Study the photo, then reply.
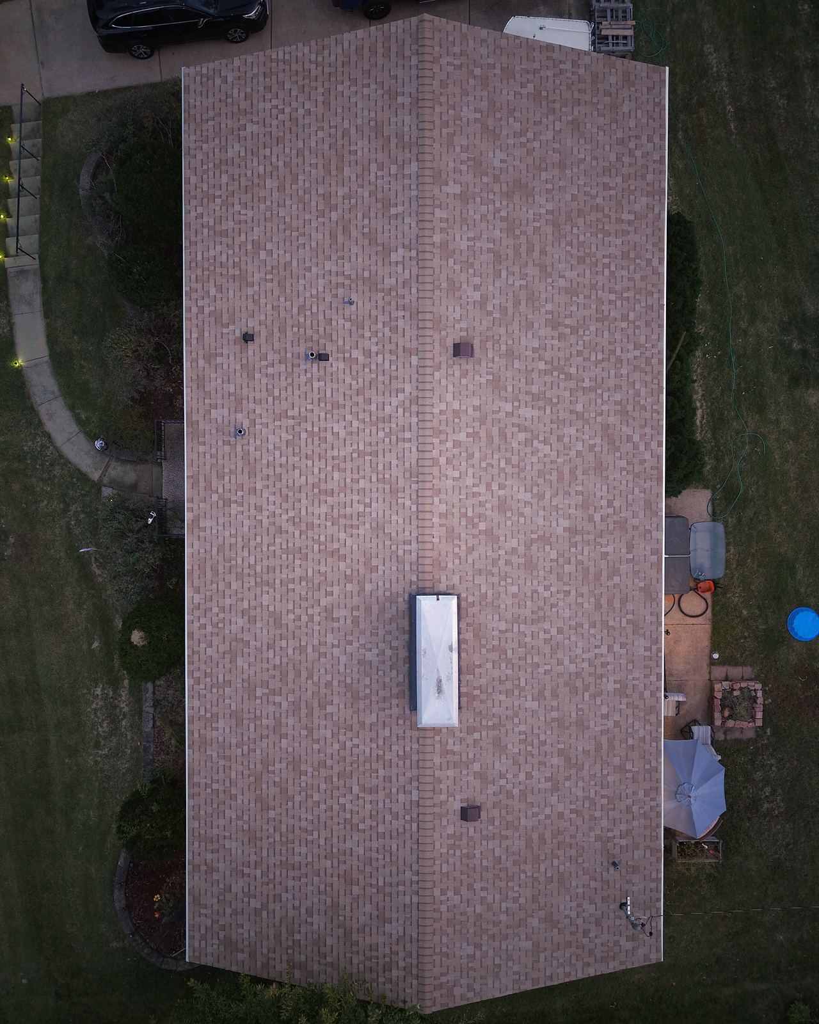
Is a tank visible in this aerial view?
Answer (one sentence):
No, there's no tank here.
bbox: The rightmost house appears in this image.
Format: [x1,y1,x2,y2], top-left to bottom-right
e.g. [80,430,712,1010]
[181,14,668,1014]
